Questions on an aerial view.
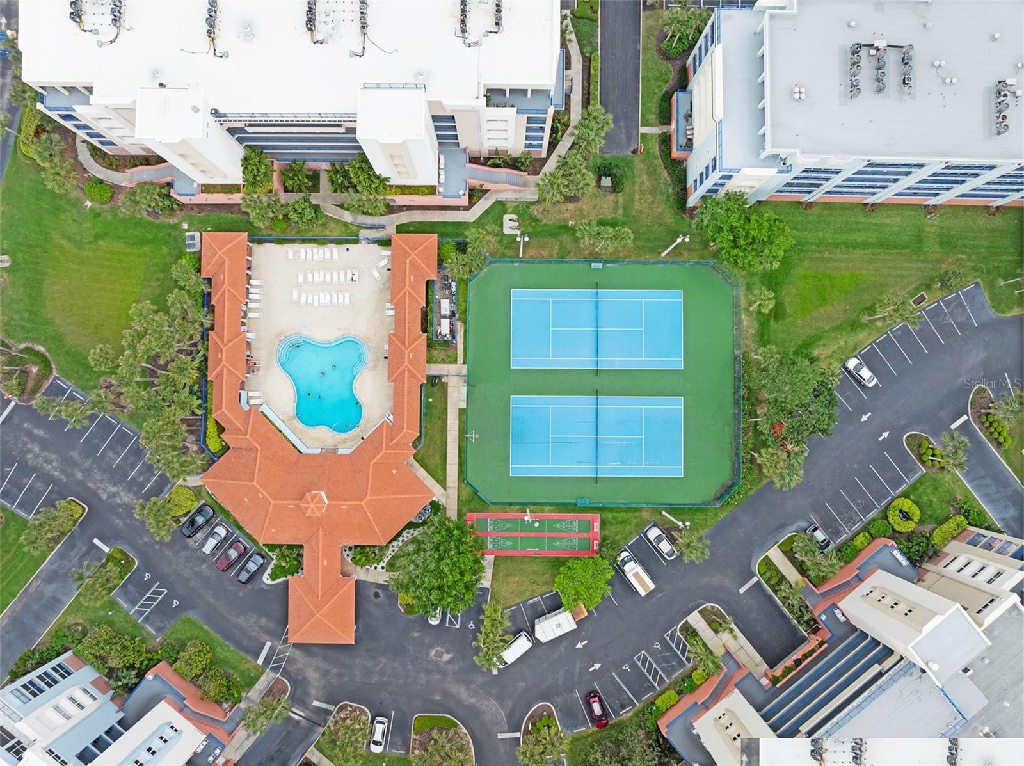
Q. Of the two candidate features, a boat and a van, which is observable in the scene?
van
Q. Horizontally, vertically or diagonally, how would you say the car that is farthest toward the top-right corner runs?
diagonally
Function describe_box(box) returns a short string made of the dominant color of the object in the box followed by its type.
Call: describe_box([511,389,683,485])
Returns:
blue tennis court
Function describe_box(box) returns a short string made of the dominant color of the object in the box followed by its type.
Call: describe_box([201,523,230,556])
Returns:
white car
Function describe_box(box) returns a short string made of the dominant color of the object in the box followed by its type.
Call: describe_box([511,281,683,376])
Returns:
blue tennis court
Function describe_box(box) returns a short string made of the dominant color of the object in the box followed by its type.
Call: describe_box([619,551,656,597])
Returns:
white vehicle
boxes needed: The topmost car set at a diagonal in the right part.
[843,355,876,389]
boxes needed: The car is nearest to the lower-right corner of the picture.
[803,520,835,552]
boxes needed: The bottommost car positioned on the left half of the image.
[370,716,389,751]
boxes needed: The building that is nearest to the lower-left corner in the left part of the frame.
[0,652,253,766]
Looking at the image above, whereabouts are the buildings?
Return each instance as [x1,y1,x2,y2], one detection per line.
[670,0,1024,210]
[200,232,438,644]
[660,526,1024,766]
[0,652,253,766]
[17,0,565,205]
